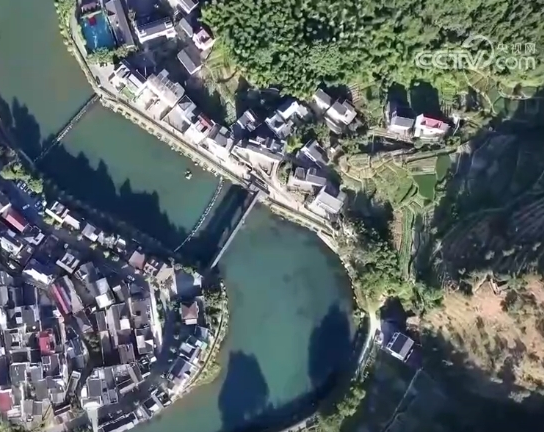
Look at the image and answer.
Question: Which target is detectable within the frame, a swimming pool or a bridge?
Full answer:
I can see a bridge in this picture.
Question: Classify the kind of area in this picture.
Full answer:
The area seen from above is a residential area.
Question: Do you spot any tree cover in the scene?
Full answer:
Yes, tree cover can be seen from above here.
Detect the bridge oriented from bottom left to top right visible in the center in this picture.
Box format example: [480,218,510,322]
[207,190,264,274]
